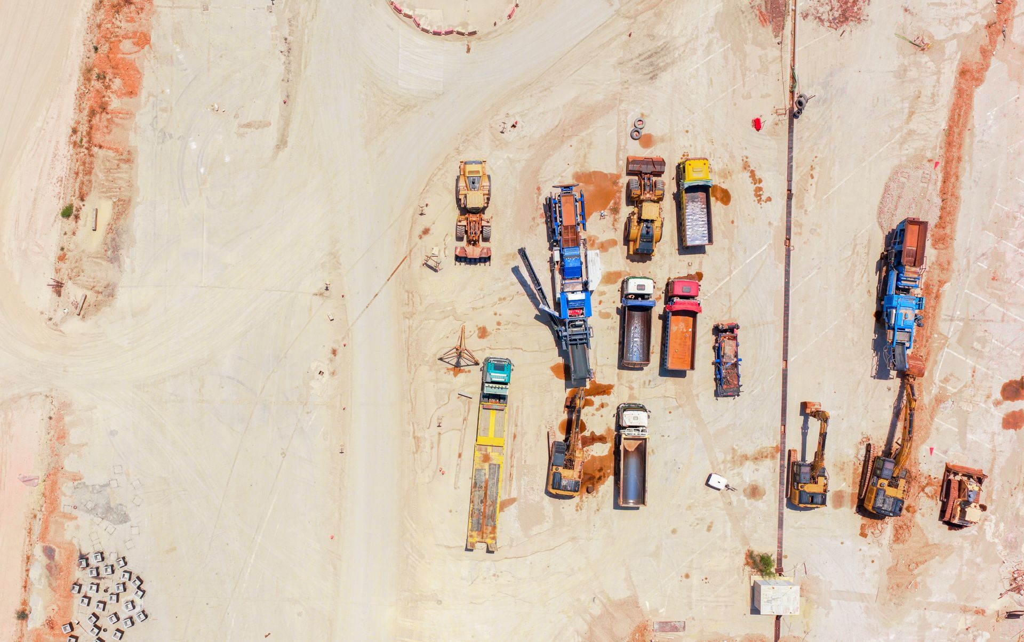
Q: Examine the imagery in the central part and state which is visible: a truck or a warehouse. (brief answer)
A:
truck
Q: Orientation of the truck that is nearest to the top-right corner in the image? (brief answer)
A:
from top to bottom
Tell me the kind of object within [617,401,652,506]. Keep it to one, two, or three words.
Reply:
truck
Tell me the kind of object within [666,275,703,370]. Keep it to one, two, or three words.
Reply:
truck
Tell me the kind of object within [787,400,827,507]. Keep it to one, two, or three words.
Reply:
work vehicle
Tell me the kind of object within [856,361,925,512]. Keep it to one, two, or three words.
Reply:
work vehicle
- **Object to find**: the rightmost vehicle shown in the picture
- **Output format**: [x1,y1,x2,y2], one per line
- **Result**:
[936,462,988,530]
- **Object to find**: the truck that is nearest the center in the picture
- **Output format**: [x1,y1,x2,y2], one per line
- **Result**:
[480,354,515,410]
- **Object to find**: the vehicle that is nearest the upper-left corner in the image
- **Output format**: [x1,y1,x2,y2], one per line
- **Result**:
[455,157,491,264]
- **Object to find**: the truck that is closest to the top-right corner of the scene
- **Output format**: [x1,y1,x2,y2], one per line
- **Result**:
[679,156,714,245]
